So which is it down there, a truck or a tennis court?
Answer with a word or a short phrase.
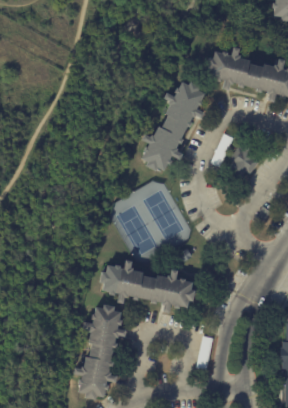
tennis court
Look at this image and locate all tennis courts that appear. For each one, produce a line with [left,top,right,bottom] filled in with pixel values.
[144,192,182,239]
[118,206,154,255]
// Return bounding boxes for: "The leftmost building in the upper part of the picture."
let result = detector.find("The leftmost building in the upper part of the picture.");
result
[141,82,204,168]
